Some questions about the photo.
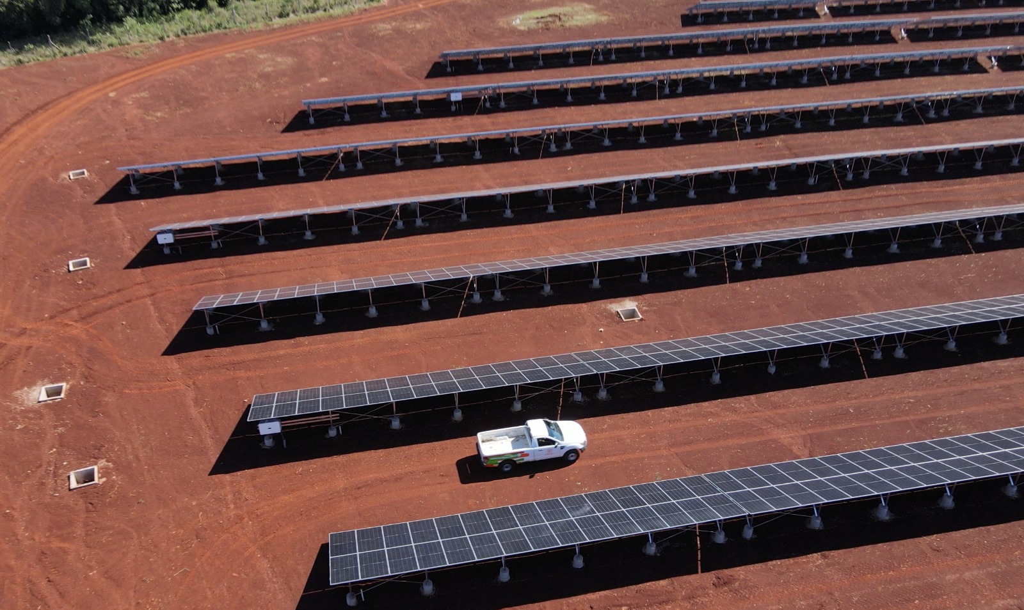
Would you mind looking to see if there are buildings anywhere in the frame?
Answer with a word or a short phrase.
No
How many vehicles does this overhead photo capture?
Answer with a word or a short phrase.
1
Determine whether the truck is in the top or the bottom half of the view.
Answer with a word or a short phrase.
bottom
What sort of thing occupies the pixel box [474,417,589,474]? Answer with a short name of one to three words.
truck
